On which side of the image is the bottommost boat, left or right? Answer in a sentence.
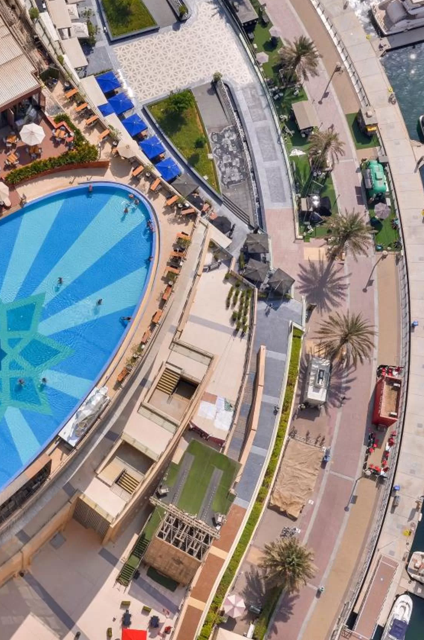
You can find the bottommost boat on the right side of the picture.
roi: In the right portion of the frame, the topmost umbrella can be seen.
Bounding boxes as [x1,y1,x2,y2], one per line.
[266,26,283,43]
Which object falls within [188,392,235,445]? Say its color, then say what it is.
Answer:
white tent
